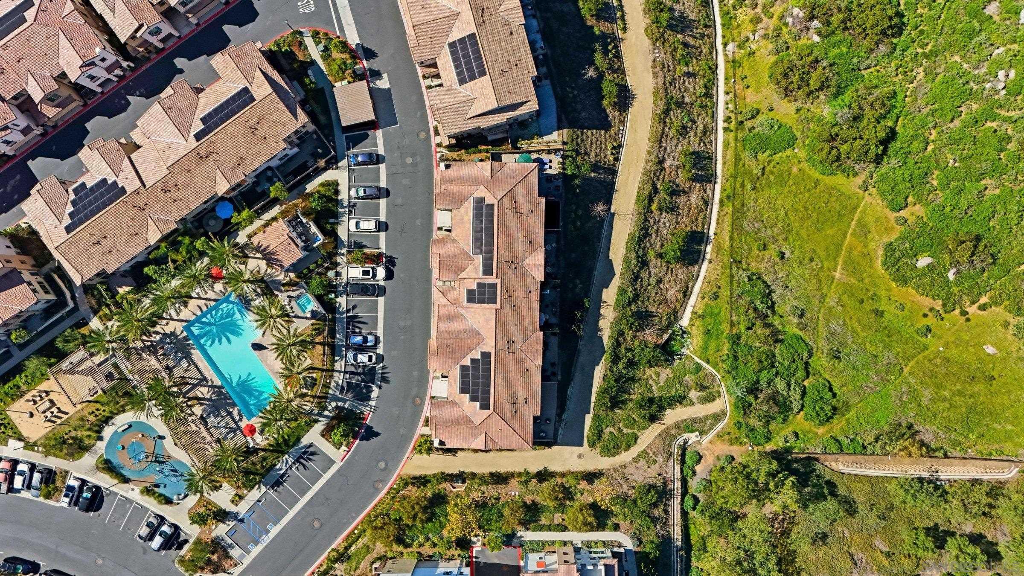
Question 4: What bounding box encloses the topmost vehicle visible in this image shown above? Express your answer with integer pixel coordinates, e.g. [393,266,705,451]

[348,151,376,165]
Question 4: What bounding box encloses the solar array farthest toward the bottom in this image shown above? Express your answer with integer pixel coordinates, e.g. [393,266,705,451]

[459,352,490,408]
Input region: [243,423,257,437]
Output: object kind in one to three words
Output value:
umbrella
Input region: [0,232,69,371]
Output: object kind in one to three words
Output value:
house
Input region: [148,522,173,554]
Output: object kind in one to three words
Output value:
car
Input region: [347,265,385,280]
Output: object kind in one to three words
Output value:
vehicle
